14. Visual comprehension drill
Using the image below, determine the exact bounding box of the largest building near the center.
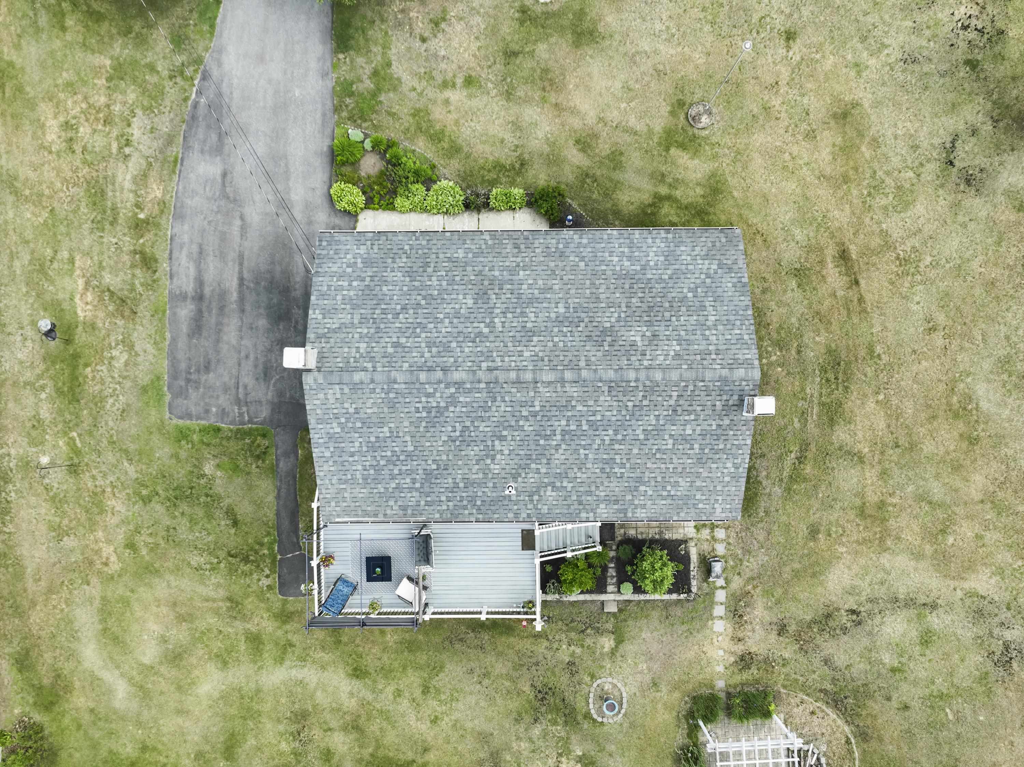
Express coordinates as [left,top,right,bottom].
[283,227,775,524]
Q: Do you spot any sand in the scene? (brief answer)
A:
No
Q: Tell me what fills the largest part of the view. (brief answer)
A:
grass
